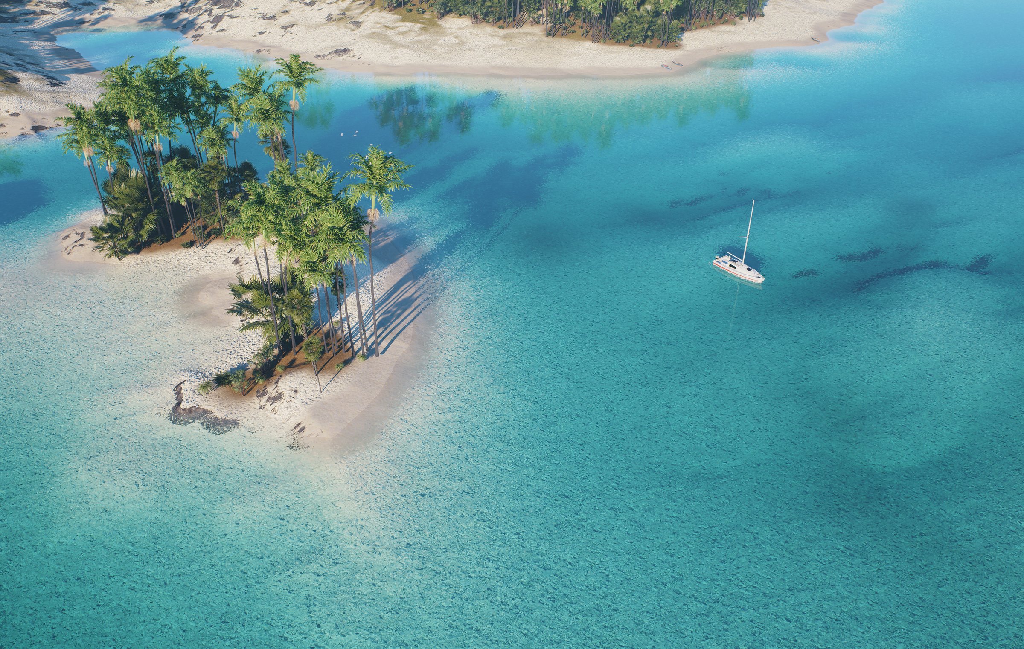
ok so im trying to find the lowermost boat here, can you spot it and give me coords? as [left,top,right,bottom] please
[711,201,763,281]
